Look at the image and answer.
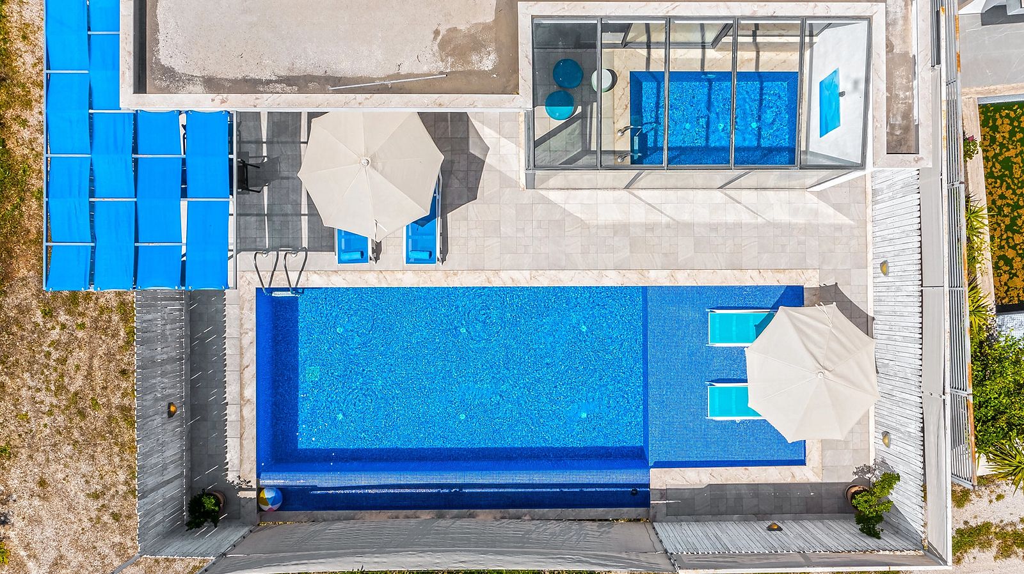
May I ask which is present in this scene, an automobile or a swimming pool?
swimming pool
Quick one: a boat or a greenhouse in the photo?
greenhouse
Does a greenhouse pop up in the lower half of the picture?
No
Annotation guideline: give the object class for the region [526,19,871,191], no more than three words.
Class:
greenhouse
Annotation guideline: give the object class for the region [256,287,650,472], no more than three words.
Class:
swimming pool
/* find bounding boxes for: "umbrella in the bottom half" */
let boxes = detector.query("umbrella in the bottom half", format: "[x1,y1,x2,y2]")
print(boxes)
[745,302,880,442]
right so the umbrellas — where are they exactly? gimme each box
[745,302,880,442]
[297,115,445,242]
